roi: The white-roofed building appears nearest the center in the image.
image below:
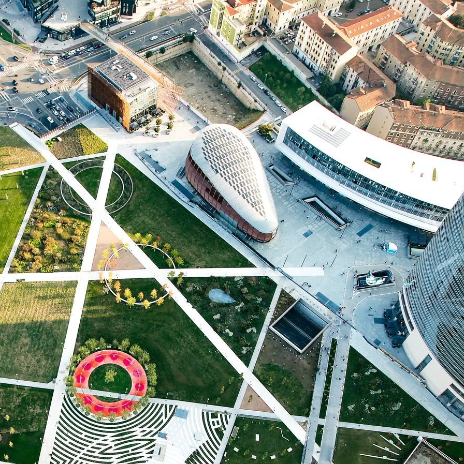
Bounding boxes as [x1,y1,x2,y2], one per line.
[187,123,279,242]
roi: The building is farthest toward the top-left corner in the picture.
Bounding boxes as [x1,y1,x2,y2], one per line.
[27,0,60,29]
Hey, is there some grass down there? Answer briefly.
Yes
